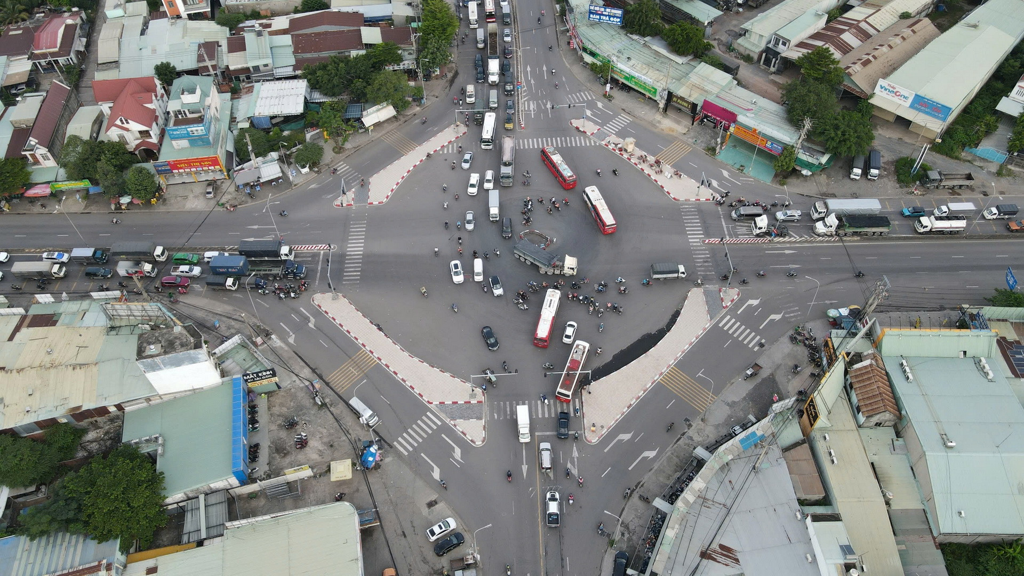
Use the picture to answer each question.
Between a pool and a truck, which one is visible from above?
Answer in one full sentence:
The image shows a truck.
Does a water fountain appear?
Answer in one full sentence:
No, I find no water fountain anywhere in the image.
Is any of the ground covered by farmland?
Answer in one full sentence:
No, no farmland is visible.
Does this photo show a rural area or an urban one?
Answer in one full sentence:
From above, the setting appears urban.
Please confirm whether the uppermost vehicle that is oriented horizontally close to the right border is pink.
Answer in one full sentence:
No, the uppermost vehicle that is oriented horizontally close to the right border is actually gray.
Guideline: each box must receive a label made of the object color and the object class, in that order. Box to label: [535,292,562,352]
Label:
white bus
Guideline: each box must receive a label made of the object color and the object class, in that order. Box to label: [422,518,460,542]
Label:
white car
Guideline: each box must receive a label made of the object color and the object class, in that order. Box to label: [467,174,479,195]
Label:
white vehicle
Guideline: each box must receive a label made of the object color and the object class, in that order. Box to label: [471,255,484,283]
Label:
white vehicle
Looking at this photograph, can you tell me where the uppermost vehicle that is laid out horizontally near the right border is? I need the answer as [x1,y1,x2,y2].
[921,170,979,190]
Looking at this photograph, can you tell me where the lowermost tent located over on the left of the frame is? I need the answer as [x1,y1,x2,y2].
[327,459,356,483]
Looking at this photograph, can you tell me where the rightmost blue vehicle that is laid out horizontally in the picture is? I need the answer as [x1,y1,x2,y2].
[899,206,926,218]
